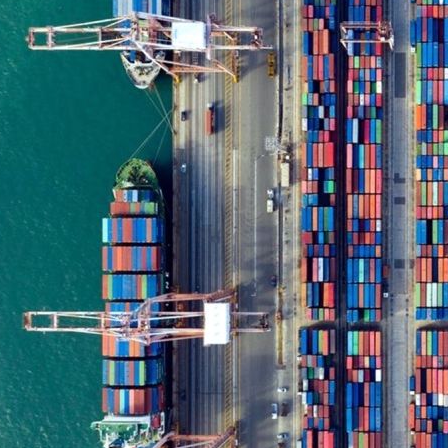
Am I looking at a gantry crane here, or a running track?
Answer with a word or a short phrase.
gantry crane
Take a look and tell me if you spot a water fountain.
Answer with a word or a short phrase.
No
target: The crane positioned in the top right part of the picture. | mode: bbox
[340,26,393,60]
